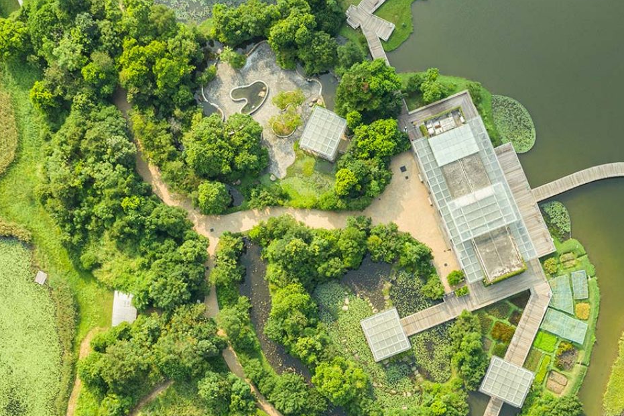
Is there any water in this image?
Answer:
Yes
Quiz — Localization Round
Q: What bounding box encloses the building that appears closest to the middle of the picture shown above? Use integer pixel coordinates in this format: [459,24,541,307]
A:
[300,106,346,162]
